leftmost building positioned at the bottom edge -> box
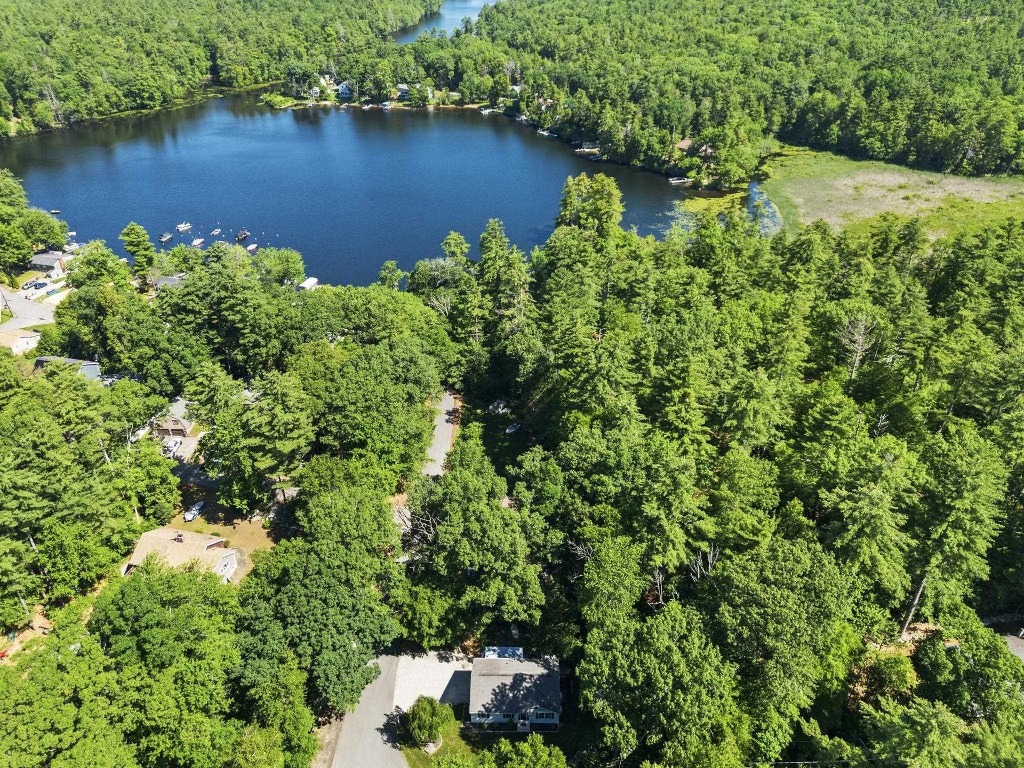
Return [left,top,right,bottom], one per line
[470,645,562,740]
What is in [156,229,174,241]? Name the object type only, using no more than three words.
boat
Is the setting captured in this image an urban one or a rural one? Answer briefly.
rural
